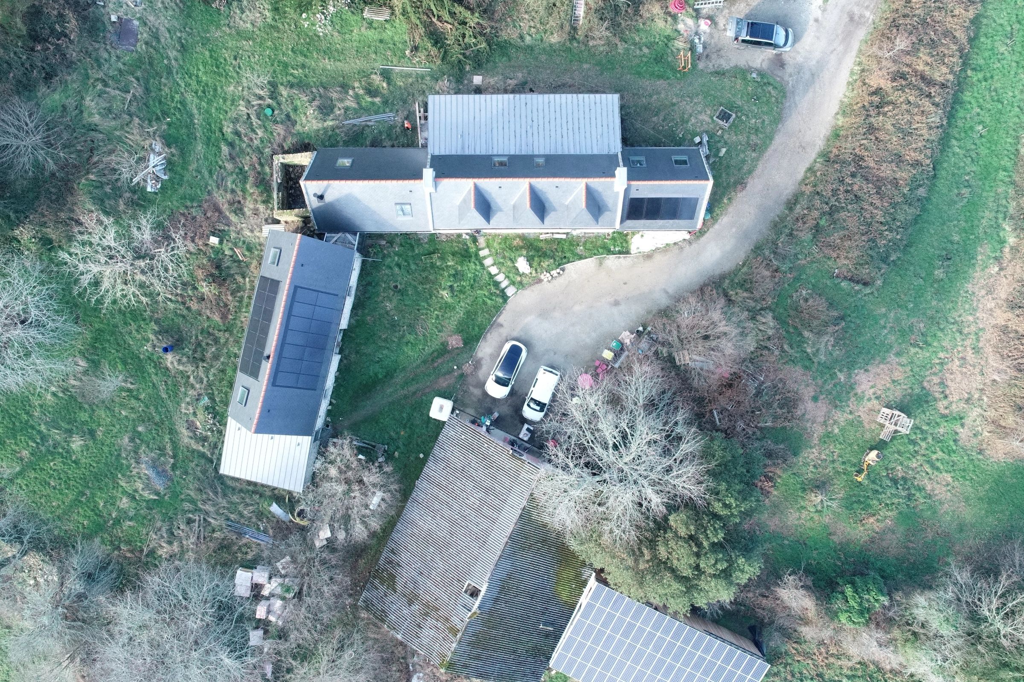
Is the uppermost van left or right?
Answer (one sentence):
The uppermost van sits on the right side.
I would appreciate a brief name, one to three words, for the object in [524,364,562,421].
van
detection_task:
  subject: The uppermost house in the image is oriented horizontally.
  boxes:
[300,92,714,235]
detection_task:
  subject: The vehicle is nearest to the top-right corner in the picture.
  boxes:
[720,14,791,56]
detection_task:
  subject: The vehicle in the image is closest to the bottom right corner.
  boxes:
[851,444,884,481]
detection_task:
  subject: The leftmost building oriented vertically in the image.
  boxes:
[219,229,374,494]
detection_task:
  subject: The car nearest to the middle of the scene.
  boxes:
[488,340,524,398]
